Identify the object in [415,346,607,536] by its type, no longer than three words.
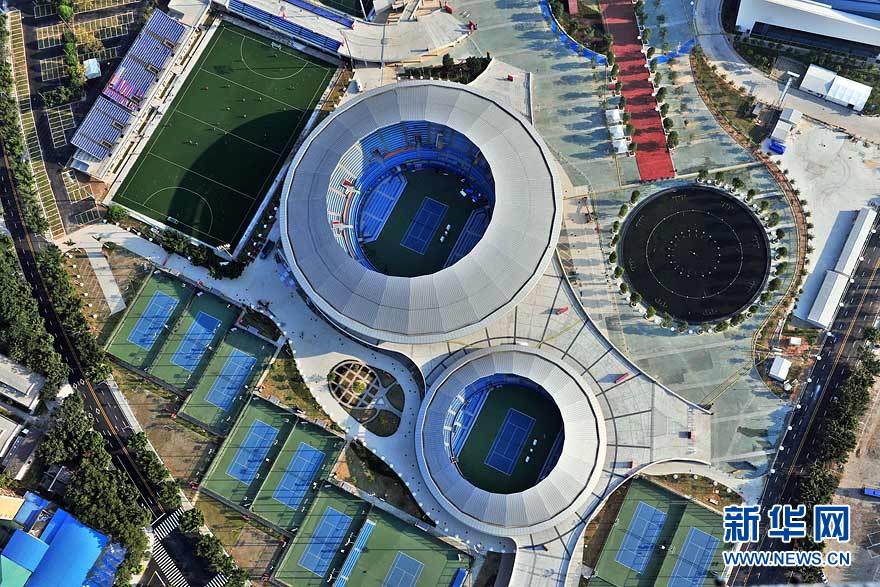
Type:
stadium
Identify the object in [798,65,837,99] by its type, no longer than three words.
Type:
tent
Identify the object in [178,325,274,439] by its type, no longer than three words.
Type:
tennis court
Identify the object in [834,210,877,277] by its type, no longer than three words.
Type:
shed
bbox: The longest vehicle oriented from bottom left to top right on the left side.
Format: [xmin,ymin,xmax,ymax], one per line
[260,241,272,256]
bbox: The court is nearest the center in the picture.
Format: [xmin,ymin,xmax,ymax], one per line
[360,165,490,276]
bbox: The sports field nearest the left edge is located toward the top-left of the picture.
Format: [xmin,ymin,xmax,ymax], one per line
[105,17,341,257]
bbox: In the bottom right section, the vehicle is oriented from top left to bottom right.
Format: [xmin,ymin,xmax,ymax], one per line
[817,569,833,584]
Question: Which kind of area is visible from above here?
sports ground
